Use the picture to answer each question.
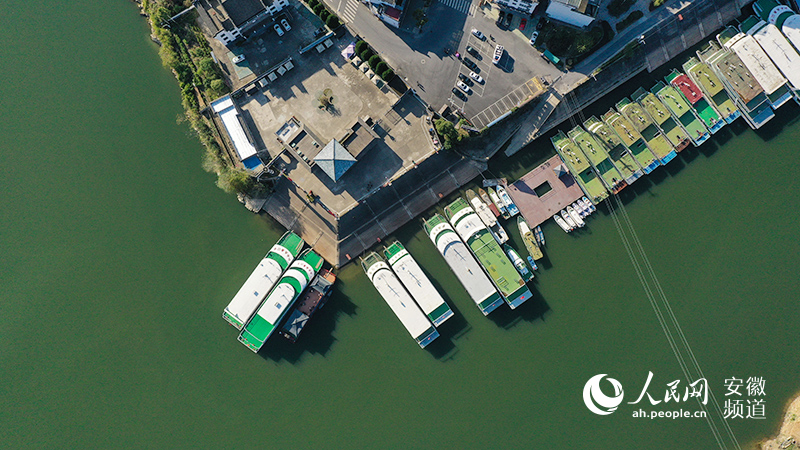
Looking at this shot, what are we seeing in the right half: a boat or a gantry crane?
boat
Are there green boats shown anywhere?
Yes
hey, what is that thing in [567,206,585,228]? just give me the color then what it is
white boat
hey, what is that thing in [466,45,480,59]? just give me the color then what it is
black car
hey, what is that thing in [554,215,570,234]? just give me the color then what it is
white boat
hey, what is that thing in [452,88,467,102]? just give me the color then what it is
black car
